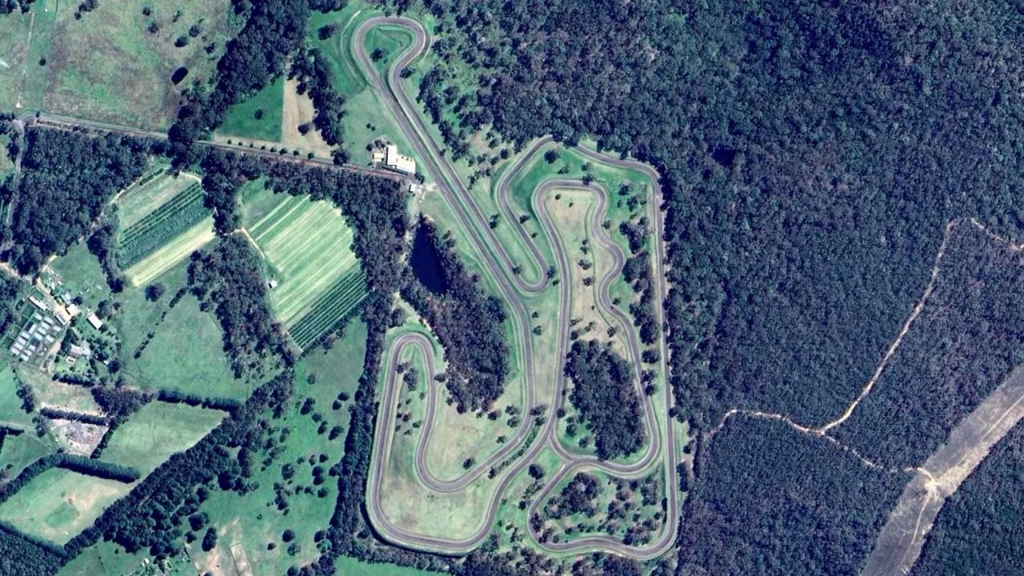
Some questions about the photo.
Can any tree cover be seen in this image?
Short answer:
Yes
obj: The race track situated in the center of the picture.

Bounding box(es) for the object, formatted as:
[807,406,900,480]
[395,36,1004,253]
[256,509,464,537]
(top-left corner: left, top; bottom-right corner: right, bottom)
[351,12,681,559]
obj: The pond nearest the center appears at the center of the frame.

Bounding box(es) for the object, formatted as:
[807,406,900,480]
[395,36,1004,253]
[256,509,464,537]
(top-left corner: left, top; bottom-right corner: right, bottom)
[412,217,447,294]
